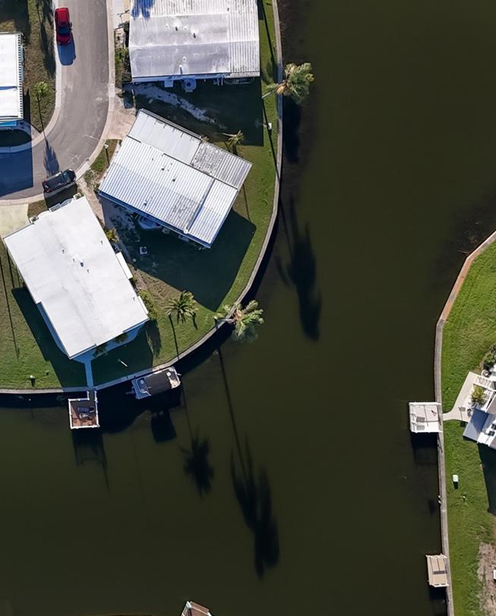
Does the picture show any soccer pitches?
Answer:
No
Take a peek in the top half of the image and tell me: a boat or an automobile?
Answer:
automobile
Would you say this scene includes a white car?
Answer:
No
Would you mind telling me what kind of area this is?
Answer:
residential area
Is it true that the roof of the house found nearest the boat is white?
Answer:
Yes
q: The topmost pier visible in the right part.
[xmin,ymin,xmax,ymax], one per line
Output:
[408,403,444,435]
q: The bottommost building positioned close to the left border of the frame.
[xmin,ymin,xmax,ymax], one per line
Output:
[4,193,148,359]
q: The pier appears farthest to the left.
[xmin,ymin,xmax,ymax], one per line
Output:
[67,390,102,431]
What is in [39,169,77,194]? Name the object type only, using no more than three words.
car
